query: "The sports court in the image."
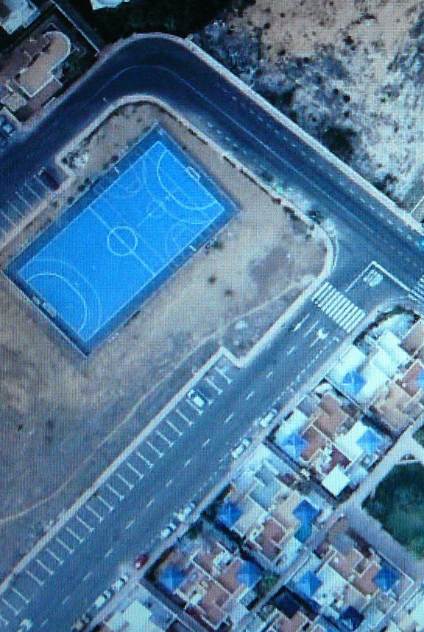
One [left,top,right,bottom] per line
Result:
[3,124,241,354]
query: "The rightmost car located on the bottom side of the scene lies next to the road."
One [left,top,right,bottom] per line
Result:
[259,407,277,427]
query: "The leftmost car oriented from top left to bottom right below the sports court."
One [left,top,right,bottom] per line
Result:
[188,389,207,408]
